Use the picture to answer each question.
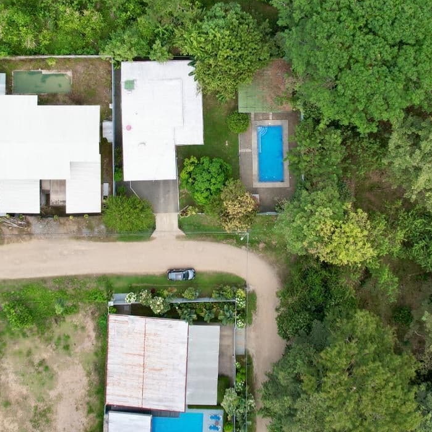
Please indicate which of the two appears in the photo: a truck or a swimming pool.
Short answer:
swimming pool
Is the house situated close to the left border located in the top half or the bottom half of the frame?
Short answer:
top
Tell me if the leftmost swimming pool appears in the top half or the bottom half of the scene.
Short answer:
top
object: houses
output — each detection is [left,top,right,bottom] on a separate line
[0,73,102,217]
[106,313,220,432]
[121,60,203,182]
